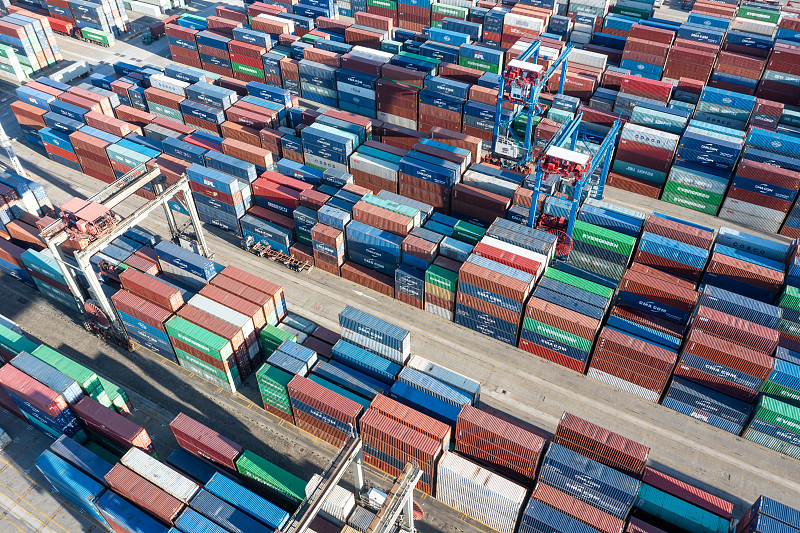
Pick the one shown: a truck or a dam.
truck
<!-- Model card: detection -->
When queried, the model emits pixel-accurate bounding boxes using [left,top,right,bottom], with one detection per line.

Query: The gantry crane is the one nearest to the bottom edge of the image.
[269,427,430,533]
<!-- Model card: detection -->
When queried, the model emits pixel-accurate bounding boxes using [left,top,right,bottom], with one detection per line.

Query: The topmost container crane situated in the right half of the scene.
[489,27,579,167]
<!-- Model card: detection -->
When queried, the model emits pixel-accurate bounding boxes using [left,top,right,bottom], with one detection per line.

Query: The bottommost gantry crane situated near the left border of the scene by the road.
[26,154,223,349]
